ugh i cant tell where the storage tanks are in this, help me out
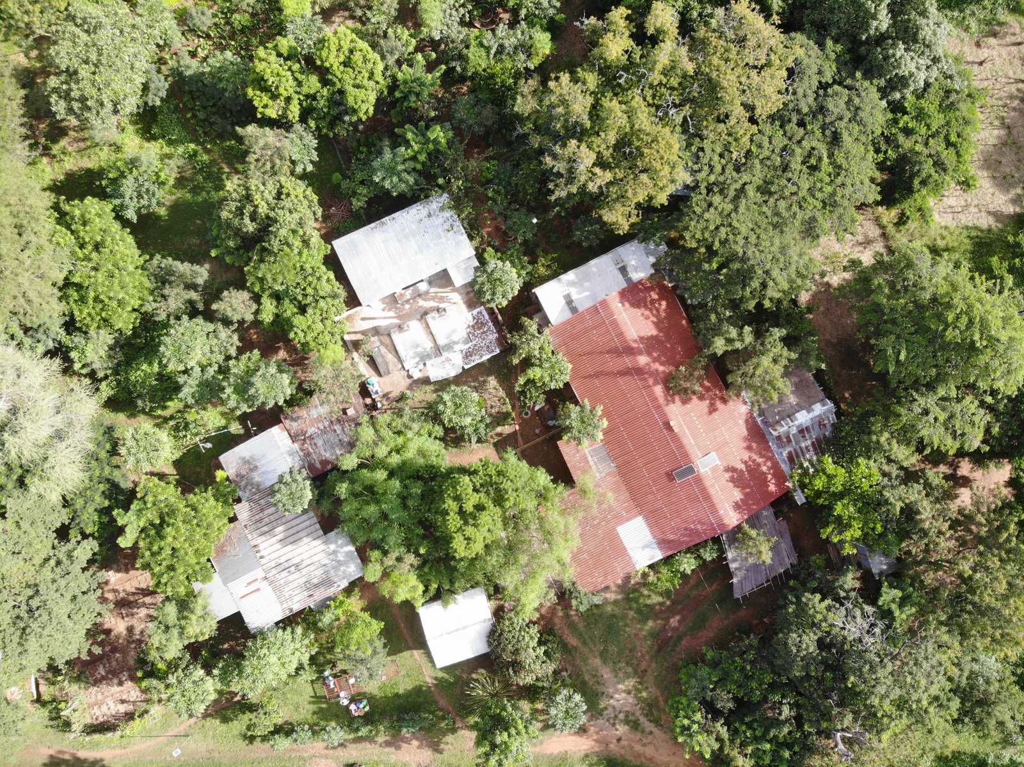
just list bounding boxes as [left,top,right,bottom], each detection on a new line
[390,319,435,370]
[426,305,472,356]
